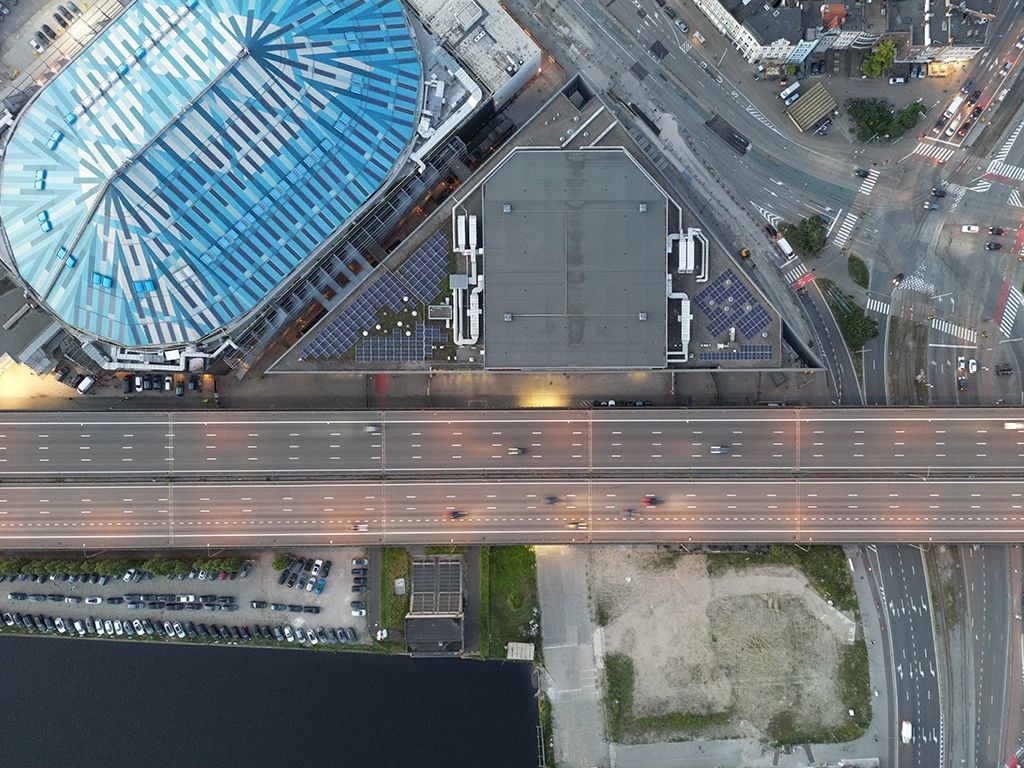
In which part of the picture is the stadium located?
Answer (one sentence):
Look in the top left portion of the view to spot the stadium.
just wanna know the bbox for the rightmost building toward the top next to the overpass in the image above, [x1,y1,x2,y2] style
[264,74,827,374]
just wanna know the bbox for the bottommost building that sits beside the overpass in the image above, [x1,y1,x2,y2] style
[405,551,465,658]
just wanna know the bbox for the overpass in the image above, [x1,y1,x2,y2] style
[0,408,1024,548]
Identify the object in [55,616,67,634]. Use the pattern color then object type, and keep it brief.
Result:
white vehicle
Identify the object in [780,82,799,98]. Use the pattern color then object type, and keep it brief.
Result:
white vehicle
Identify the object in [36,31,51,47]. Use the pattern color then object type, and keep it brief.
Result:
gray car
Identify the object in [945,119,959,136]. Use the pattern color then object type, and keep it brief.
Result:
white car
